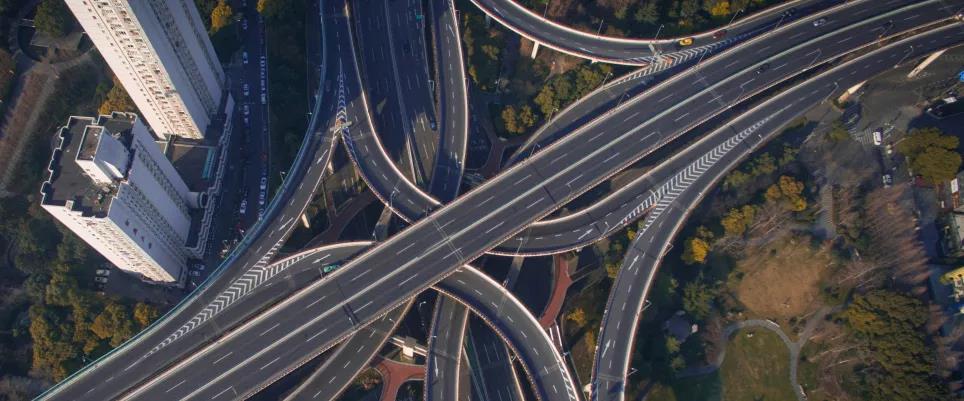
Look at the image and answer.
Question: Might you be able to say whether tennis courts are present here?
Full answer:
No, I find no tennis court anywhere in the image.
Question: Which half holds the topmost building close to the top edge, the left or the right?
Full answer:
You can find the topmost building close to the top edge on the left side of the picture.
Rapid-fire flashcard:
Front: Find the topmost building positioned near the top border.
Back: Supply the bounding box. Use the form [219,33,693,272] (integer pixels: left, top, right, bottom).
[60,0,230,143]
